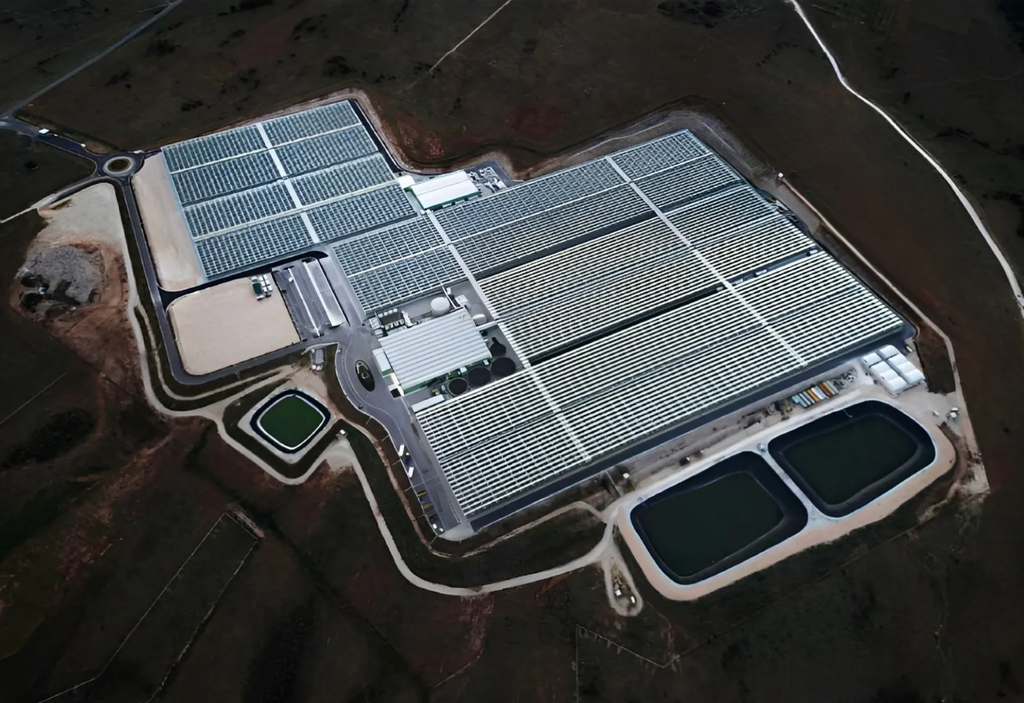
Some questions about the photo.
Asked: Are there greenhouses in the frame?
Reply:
Yes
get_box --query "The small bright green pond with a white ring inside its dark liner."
[251,390,330,452]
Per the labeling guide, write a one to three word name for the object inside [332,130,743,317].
greenhouse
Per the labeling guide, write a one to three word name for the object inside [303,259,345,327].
shed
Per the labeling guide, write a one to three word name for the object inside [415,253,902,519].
greenhouse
